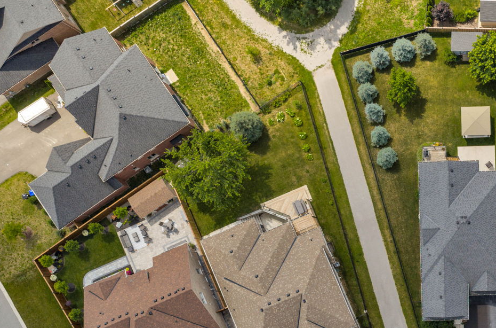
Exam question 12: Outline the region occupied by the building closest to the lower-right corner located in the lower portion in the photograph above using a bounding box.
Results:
[418,160,496,322]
